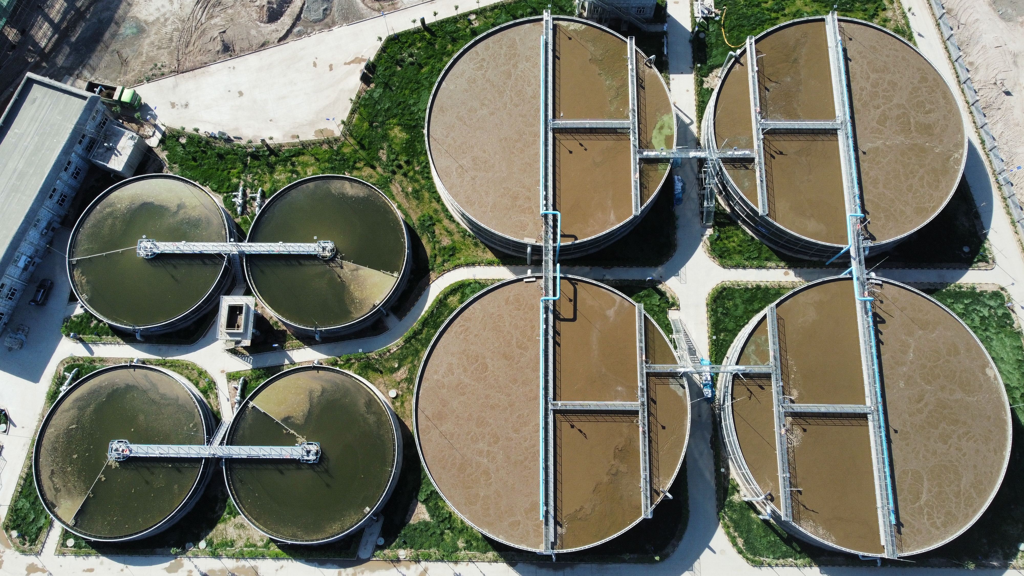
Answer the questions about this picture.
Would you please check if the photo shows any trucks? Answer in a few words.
Yes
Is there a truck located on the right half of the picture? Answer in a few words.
No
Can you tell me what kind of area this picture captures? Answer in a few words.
industrial area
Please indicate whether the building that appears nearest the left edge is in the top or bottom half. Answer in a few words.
top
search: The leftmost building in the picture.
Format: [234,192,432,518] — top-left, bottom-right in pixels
[0,63,117,333]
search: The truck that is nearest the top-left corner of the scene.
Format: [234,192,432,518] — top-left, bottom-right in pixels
[82,76,146,109]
